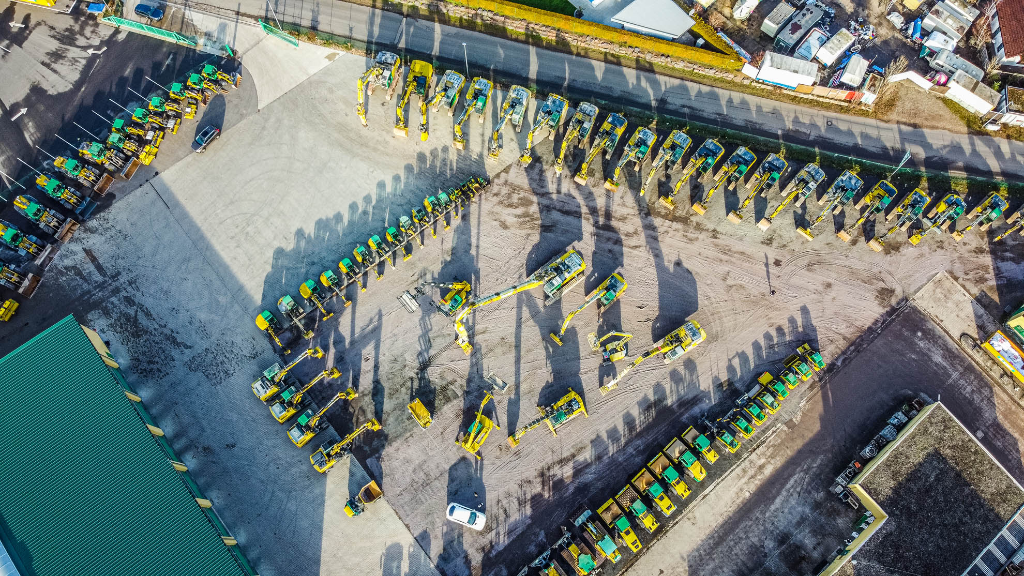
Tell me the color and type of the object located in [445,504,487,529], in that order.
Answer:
white car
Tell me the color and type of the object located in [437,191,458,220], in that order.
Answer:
green work vehicle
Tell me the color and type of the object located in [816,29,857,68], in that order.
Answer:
white camper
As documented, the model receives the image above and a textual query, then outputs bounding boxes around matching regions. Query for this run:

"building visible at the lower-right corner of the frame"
[818,399,1024,576]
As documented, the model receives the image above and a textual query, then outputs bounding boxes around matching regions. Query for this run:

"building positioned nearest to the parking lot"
[0,312,273,576]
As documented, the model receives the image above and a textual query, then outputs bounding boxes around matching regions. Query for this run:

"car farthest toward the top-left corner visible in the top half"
[134,4,165,22]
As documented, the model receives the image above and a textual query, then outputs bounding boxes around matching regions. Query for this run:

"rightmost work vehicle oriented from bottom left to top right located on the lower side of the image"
[598,317,712,396]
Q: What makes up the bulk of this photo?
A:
paved ground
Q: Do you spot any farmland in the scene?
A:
No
